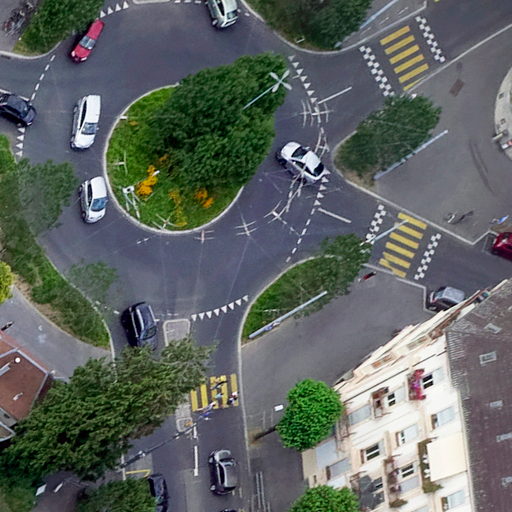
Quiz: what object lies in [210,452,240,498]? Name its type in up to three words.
car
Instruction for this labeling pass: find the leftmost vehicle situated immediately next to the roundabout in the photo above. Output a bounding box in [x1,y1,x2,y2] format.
[0,86,38,126]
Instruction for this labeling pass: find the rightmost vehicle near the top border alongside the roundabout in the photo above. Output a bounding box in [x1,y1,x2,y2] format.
[204,0,240,28]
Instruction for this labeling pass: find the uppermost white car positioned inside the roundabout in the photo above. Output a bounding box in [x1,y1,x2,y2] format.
[71,96,100,147]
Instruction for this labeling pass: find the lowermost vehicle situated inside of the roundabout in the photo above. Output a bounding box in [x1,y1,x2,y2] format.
[80,176,109,220]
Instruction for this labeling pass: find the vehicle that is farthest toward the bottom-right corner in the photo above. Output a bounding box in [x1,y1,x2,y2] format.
[422,278,464,308]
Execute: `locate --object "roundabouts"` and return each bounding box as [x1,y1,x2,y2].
[38,19,318,299]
